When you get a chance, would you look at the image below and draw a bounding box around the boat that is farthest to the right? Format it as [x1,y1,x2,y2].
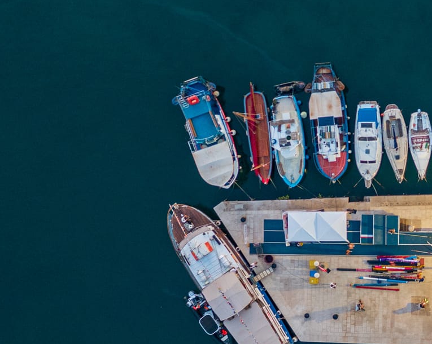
[408,106,432,193]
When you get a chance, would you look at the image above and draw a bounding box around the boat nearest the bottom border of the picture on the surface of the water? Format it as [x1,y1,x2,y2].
[185,290,231,344]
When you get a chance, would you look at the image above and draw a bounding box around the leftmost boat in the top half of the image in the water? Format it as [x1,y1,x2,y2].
[172,75,249,197]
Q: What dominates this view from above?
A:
water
